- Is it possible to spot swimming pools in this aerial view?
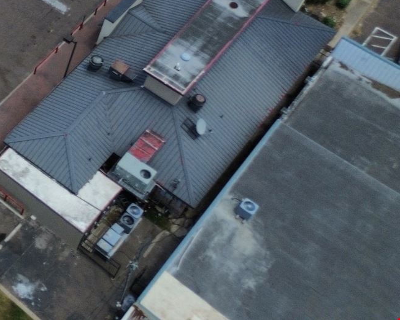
No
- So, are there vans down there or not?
No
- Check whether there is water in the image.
No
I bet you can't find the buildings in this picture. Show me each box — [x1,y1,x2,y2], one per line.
[0,0,328,250]
[122,34,400,320]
